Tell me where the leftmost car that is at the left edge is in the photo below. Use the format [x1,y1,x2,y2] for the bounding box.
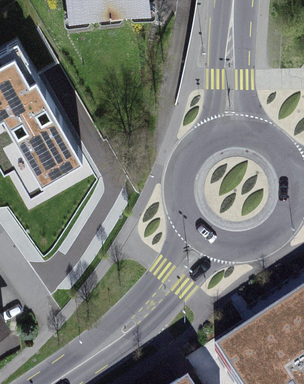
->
[2,305,24,321]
